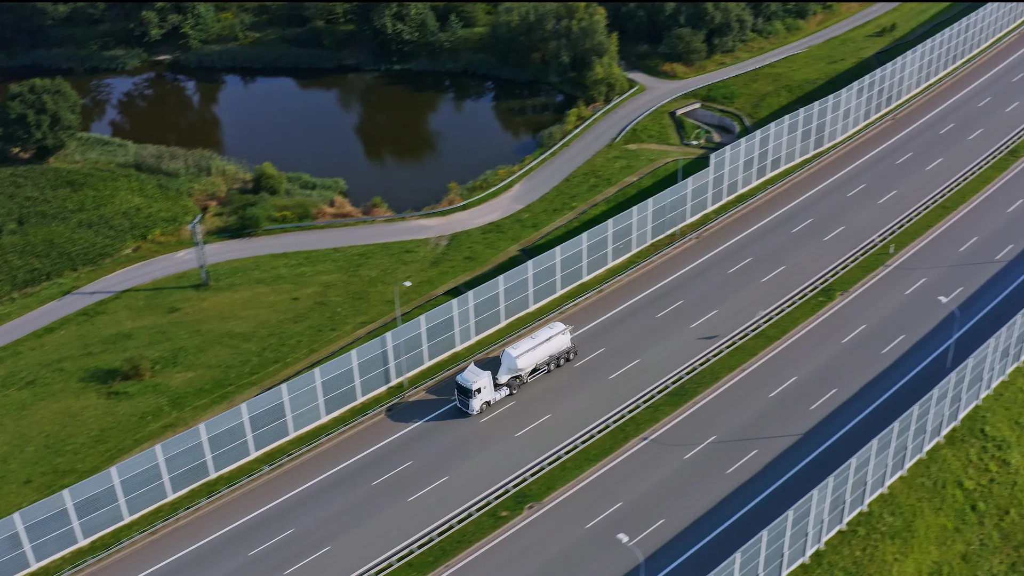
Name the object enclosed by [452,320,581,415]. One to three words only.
truck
